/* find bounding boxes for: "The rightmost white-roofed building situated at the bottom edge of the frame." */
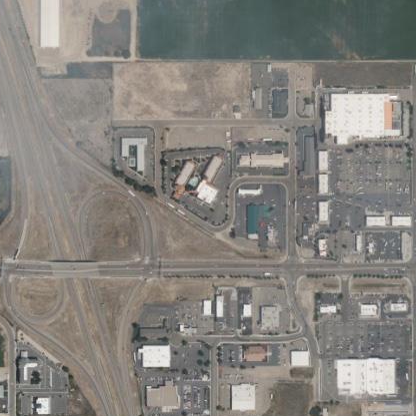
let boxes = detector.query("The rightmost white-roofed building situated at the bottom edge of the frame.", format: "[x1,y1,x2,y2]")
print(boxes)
[367,358,396,396]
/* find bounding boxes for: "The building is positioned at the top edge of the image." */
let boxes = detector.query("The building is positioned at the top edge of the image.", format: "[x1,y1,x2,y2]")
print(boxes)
[41,0,60,48]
